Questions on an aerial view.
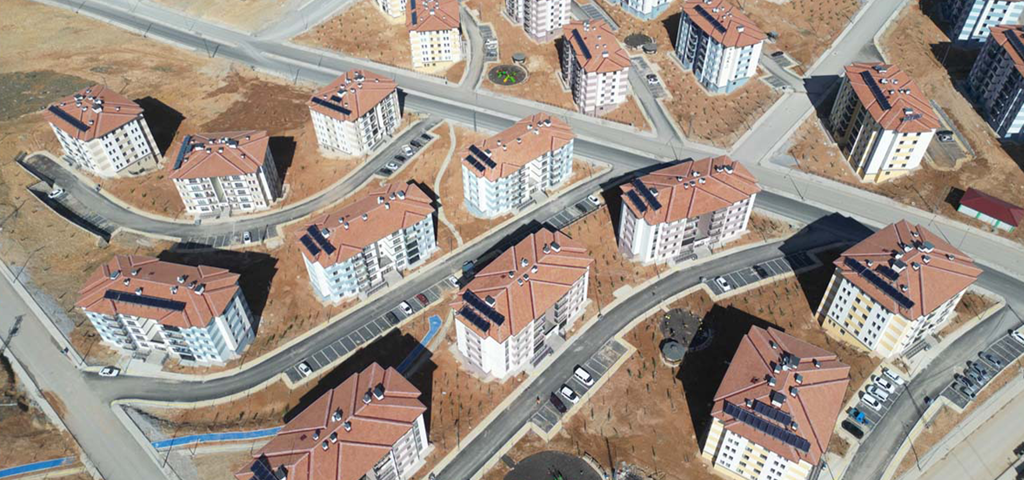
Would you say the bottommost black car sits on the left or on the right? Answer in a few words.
right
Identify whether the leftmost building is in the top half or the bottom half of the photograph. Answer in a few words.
top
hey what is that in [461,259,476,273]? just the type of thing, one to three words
vehicle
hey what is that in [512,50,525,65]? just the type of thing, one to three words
gazebo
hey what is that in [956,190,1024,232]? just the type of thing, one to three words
shed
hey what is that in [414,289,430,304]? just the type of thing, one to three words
car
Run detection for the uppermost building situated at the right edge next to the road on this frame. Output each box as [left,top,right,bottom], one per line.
[914,0,1023,45]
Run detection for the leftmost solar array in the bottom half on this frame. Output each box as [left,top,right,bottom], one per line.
[106,290,186,313]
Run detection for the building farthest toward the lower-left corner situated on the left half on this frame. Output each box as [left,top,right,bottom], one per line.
[74,254,255,370]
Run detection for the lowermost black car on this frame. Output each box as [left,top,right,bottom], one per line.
[841,417,865,438]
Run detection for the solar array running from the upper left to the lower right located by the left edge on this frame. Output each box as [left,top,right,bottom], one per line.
[48,104,90,132]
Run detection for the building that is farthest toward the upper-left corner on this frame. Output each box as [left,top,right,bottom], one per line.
[41,84,161,177]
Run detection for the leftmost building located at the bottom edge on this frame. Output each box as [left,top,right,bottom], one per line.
[235,363,430,480]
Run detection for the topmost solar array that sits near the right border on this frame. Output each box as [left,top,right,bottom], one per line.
[1002,30,1024,61]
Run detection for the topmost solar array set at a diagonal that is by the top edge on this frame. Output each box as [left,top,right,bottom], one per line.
[693,4,727,35]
